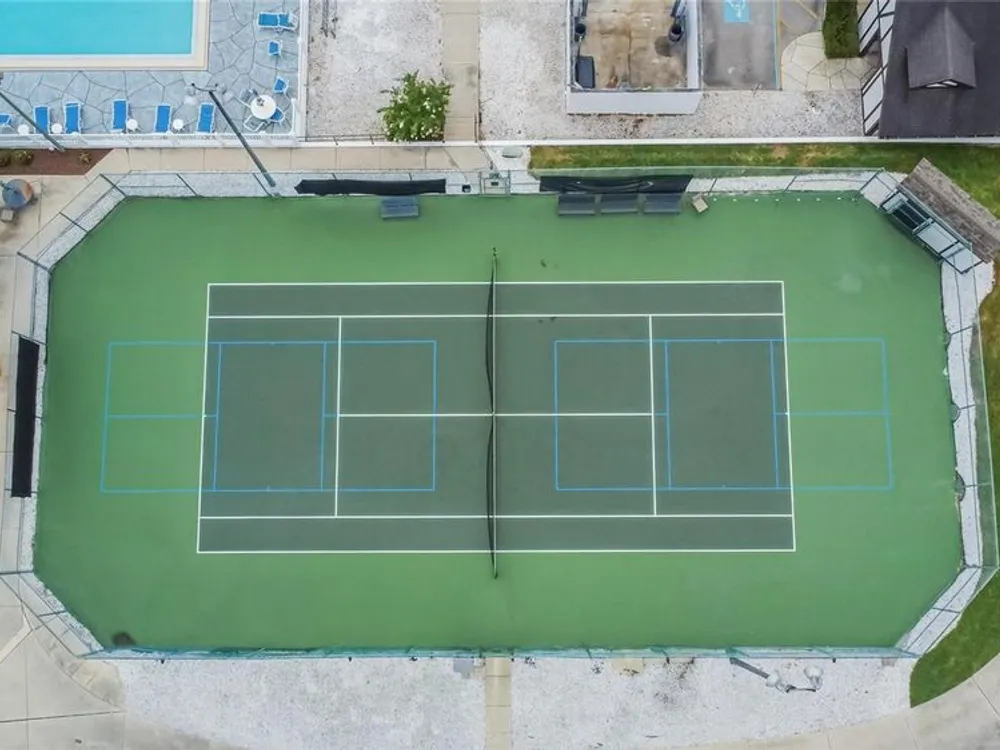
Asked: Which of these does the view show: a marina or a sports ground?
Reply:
sports ground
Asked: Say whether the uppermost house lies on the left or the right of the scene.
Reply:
right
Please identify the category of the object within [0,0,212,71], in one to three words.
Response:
swimming pool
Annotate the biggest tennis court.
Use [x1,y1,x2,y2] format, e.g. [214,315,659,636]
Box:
[33,195,963,648]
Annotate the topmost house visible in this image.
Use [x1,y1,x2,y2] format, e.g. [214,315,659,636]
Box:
[856,0,1000,142]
